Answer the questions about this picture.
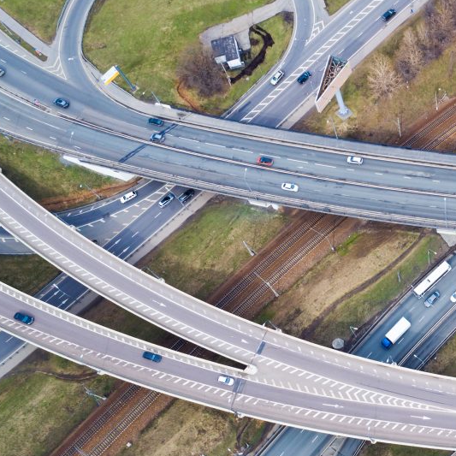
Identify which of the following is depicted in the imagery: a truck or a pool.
truck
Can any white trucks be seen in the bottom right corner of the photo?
Yes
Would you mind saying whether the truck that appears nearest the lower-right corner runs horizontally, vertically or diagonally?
diagonally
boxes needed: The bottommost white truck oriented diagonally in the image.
[380,317,413,351]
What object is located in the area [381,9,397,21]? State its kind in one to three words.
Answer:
vehicle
